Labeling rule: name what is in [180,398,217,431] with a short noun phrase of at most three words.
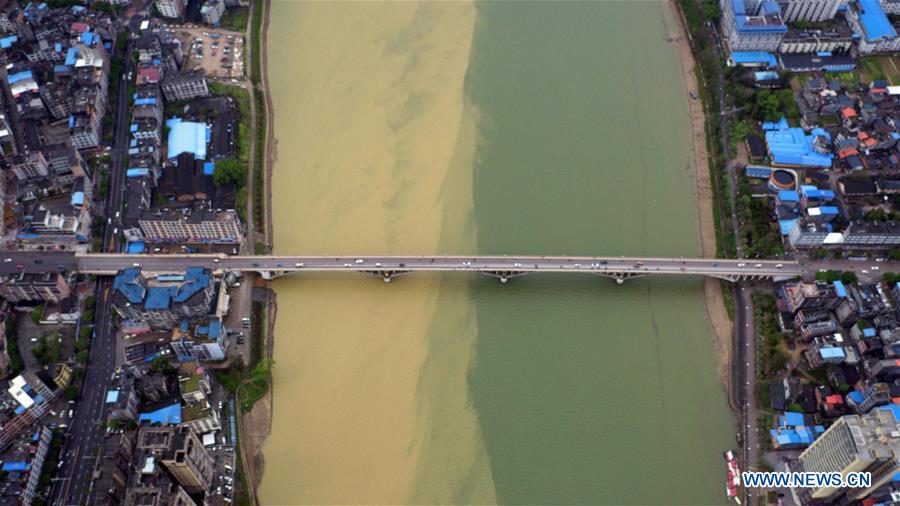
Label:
building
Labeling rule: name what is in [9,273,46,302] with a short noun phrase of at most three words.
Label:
building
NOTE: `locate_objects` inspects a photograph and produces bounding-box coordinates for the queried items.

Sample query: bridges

[74,252,801,286]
